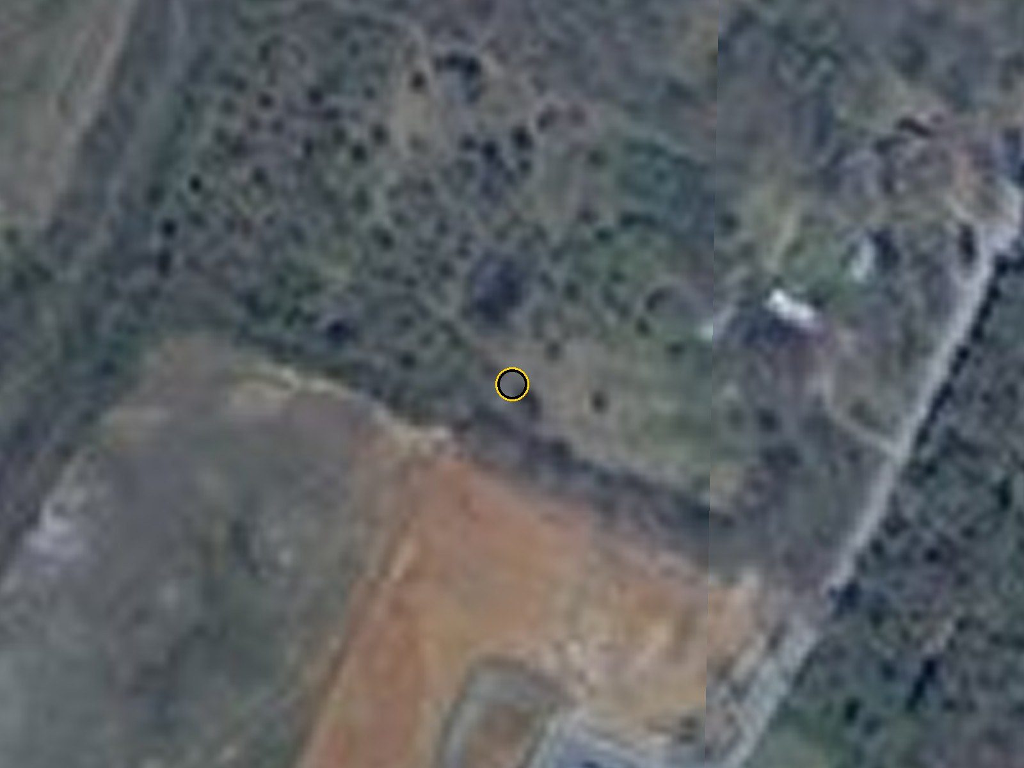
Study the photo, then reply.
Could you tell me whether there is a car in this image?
No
